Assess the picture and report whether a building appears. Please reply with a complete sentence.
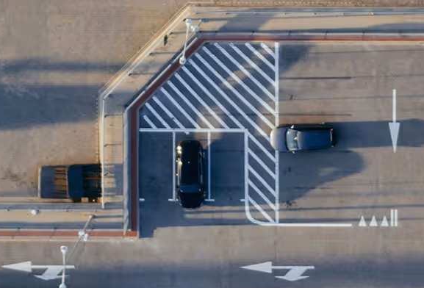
No, no building is visible in the view.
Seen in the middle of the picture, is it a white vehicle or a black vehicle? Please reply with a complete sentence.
The feature located in the middle of the picture is a black vehicle.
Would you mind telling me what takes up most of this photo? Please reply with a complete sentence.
Most of the picture is covered by paved ground.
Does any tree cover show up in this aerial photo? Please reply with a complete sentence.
No, the picture contains no tree cover.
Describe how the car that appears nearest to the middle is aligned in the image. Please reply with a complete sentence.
The car that appears nearest to the middle has been laid out from top to bottom relative to the frame.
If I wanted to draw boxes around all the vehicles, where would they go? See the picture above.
[272,124,337,156]
[37,163,105,203]
[175,138,208,208]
